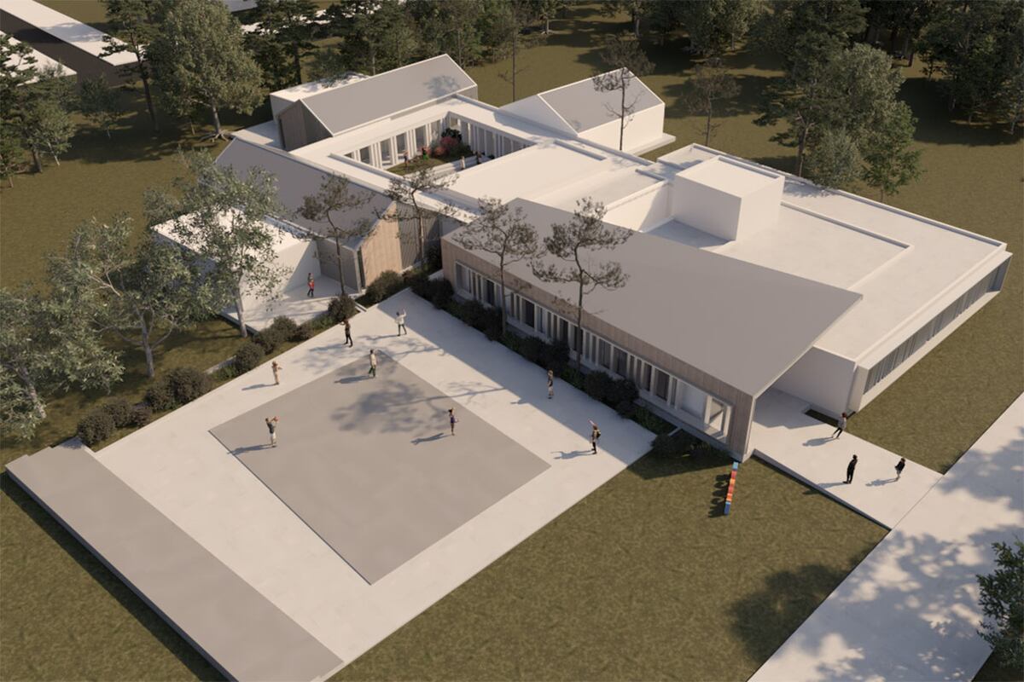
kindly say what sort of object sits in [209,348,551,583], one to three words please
sports court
